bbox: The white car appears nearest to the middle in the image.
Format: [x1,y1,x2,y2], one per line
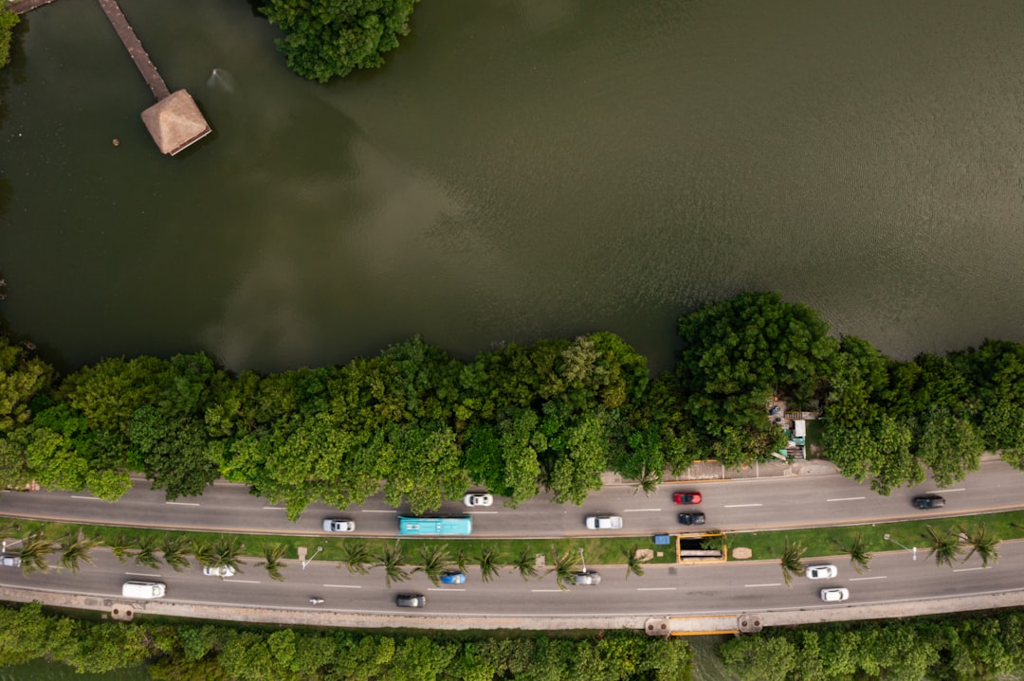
[464,492,493,507]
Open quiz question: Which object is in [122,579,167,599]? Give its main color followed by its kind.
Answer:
white vehicle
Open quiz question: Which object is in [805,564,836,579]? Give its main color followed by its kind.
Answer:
white car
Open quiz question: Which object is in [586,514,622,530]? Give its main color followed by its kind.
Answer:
white vehicle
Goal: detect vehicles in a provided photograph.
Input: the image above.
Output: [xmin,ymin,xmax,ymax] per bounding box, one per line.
[122,579,167,599]
[586,514,622,530]
[397,593,425,608]
[0,554,23,569]
[805,564,836,579]
[673,490,701,505]
[819,587,848,602]
[323,517,355,532]
[570,570,600,586]
[395,511,475,534]
[441,570,467,585]
[205,564,236,579]
[464,492,493,507]
[677,511,705,526]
